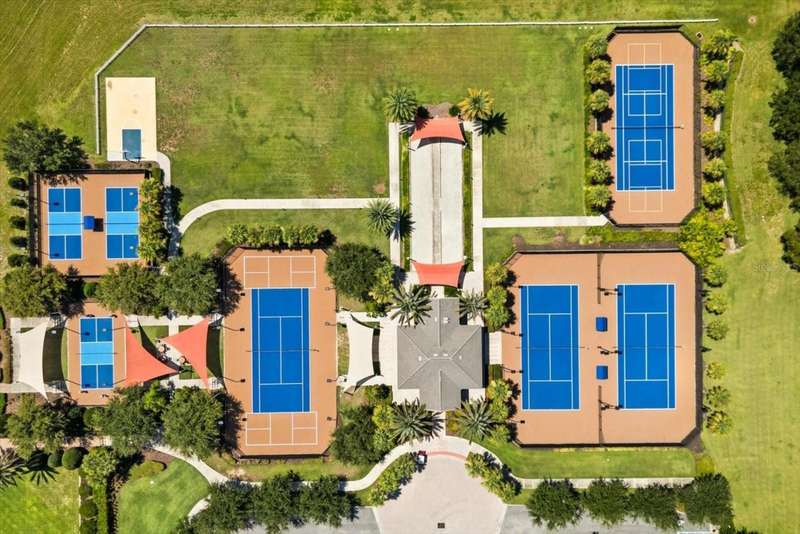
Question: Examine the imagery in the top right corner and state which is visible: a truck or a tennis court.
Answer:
tennis court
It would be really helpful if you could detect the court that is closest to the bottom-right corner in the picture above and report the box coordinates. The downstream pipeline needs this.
[502,252,697,444]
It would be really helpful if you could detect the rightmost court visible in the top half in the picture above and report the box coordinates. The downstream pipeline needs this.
[609,33,695,223]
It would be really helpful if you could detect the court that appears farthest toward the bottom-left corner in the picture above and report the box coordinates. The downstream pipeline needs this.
[66,303,125,404]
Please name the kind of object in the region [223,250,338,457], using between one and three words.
tennis court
